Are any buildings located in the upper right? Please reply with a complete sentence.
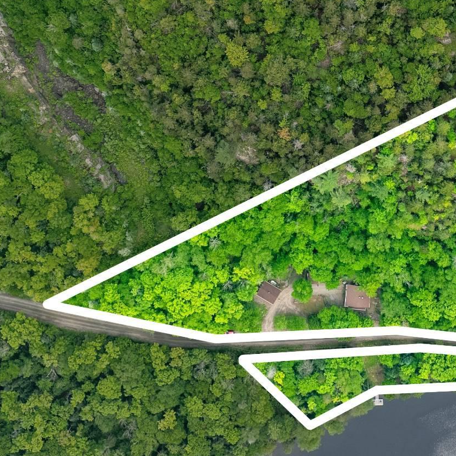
No, no building is visible in the upper right.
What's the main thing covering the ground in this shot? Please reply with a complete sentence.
The scene is dominated by trees.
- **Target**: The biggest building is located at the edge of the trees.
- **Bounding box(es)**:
[345,284,371,312]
